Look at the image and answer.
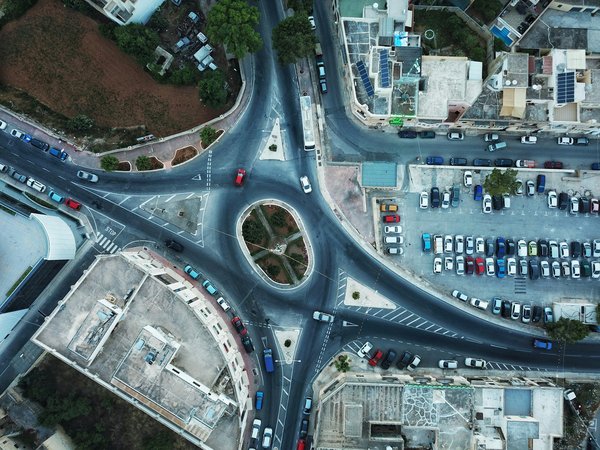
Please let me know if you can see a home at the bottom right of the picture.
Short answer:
Yes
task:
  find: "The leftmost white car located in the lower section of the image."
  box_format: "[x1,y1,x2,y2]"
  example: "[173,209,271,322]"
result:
[216,295,232,313]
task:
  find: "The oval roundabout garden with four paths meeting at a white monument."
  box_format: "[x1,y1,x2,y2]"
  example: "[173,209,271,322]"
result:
[237,199,315,291]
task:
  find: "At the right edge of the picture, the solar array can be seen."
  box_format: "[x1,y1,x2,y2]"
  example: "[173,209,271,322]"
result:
[557,73,574,103]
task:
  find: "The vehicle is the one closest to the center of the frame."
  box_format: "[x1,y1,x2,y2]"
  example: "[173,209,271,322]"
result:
[299,175,312,194]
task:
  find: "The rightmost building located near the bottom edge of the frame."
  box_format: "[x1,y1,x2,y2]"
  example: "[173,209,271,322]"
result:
[467,374,564,450]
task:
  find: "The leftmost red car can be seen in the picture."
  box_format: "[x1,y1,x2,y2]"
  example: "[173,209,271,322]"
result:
[64,197,83,210]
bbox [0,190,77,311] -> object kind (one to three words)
building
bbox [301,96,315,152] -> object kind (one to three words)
vehicle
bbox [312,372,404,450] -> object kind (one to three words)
house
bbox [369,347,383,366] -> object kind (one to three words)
car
